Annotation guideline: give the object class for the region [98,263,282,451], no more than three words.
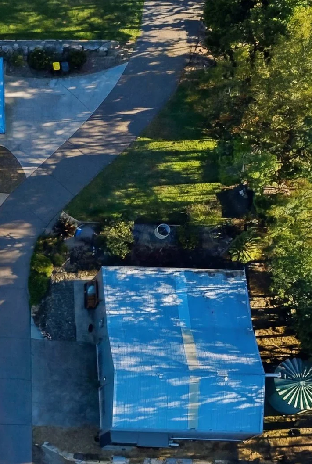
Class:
shed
